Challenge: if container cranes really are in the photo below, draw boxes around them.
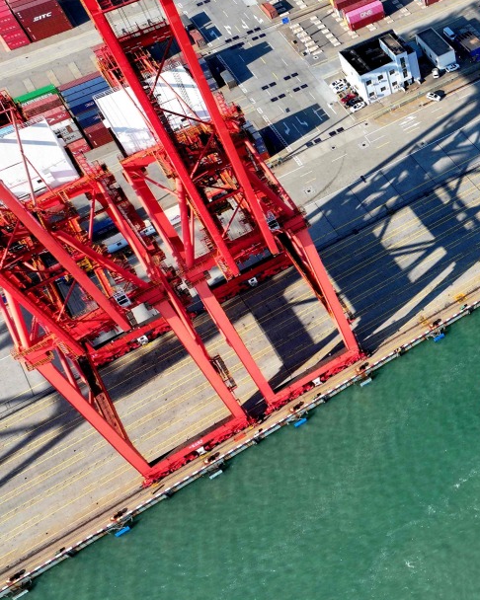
[0,110,263,490]
[66,0,375,416]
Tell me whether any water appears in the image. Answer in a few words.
Yes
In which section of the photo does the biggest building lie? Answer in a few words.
top right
